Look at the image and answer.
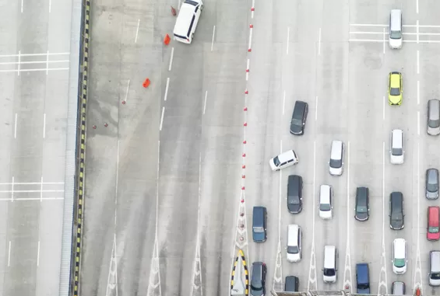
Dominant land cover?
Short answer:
paved ground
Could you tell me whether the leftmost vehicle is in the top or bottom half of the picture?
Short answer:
top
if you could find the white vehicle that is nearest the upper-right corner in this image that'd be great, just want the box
[388,10,404,49]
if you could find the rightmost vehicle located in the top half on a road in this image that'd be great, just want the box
[425,100,440,135]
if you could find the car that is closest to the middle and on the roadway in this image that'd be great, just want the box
[270,150,299,171]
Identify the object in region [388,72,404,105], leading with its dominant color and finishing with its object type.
yellow car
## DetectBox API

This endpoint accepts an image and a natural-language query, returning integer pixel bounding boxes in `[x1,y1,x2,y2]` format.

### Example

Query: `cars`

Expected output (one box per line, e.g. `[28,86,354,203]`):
[354,264,371,296]
[270,150,299,171]
[284,226,302,263]
[287,176,304,214]
[425,100,440,135]
[249,262,267,296]
[354,188,371,221]
[284,277,299,295]
[322,246,338,283]
[389,130,406,164]
[327,141,344,176]
[388,10,404,49]
[317,185,333,219]
[425,207,440,242]
[427,251,440,286]
[391,282,405,295]
[388,72,404,105]
[250,207,268,243]
[424,168,440,200]
[391,240,408,275]
[389,193,406,230]
[290,101,309,135]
